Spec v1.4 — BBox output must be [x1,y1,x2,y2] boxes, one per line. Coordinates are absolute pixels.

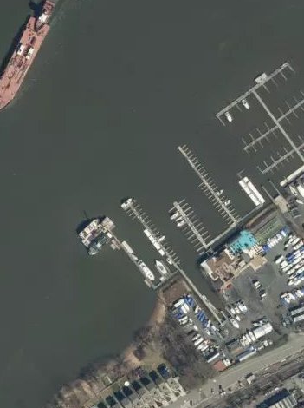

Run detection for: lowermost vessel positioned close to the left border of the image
[0,17,50,109]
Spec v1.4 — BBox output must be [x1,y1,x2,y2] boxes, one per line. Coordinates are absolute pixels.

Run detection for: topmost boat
[36,0,55,31]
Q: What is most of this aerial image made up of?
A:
water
